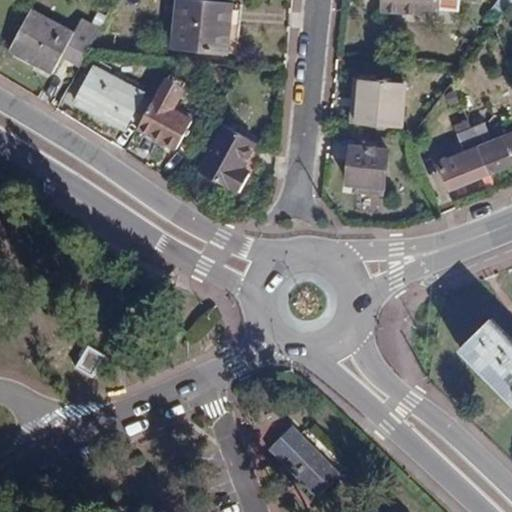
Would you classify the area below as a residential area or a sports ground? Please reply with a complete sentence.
This looks like a residential area.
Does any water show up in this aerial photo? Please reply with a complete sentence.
No, the picture contains no water.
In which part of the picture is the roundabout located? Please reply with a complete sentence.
You can find the roundabout in the center area of the picture.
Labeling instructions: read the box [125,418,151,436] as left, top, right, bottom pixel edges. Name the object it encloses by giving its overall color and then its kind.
white vehicle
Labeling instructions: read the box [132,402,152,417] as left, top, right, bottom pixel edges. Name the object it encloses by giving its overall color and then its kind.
white car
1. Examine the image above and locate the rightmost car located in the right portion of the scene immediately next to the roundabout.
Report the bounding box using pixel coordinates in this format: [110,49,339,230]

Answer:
[352,294,372,312]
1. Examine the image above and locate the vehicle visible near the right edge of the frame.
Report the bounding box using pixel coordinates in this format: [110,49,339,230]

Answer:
[471,205,492,219]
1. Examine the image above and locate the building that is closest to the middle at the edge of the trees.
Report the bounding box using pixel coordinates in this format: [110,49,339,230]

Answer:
[213,134,258,195]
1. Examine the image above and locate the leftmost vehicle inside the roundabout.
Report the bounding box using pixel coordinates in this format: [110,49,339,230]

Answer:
[266,273,282,292]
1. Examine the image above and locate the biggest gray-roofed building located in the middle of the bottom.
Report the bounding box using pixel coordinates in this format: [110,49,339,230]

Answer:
[269,426,341,493]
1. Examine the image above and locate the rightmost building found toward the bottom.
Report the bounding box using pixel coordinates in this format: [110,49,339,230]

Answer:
[457,318,512,415]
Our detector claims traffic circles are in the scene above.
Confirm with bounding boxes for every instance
[252,246,362,356]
